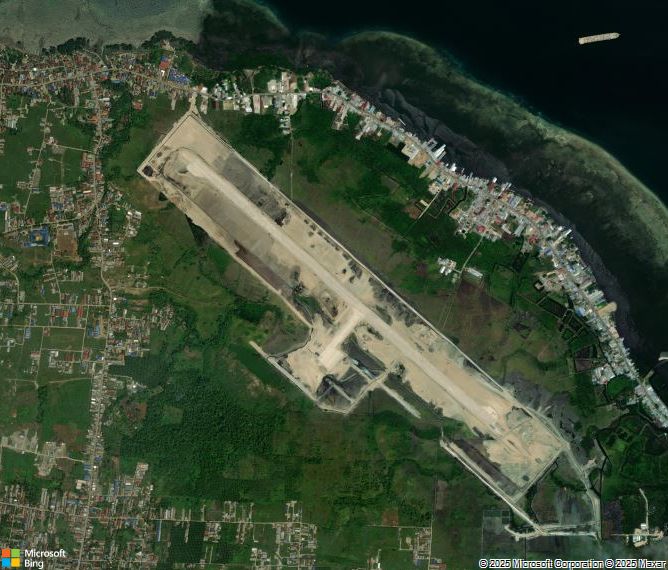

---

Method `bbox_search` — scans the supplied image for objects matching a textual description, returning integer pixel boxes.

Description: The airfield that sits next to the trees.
[138,113,568,500]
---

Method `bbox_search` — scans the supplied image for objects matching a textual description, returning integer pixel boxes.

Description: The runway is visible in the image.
[185,155,501,432]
